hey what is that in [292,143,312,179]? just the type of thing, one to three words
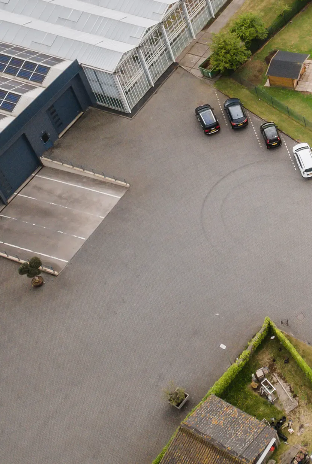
car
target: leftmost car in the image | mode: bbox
[193,103,220,136]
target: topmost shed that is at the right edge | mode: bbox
[264,52,307,90]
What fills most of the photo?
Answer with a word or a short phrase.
paved ground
